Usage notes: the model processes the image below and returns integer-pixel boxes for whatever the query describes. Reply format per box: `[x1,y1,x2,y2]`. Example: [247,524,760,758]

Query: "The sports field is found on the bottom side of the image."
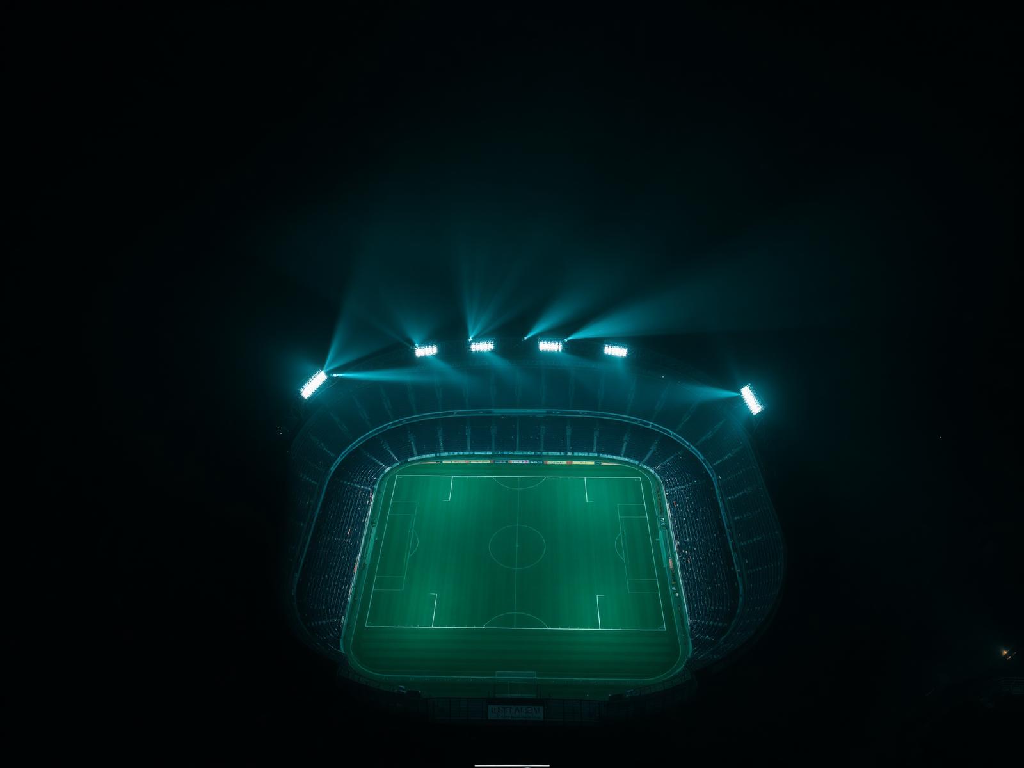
[351,462,681,681]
